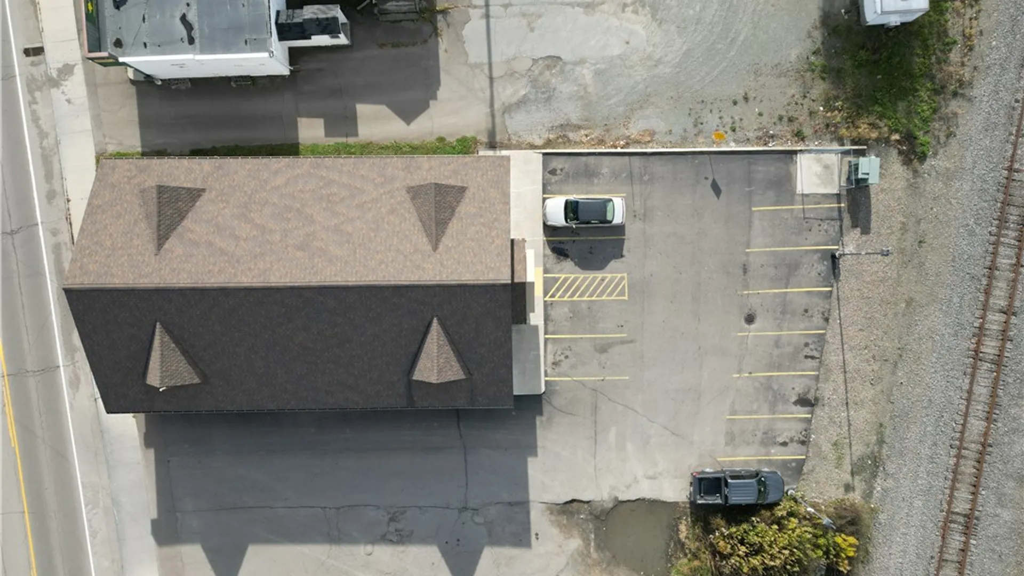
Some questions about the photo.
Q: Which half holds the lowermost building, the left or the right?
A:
left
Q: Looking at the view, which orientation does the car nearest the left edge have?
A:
from side to side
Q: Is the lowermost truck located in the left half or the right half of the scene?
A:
right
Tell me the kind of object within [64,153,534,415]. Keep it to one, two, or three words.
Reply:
building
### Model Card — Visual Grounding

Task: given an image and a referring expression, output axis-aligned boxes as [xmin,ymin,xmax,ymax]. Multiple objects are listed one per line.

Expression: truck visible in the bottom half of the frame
[688,468,783,510]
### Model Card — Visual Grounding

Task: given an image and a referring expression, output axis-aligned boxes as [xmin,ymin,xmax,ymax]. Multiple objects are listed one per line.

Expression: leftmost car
[542,194,626,228]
